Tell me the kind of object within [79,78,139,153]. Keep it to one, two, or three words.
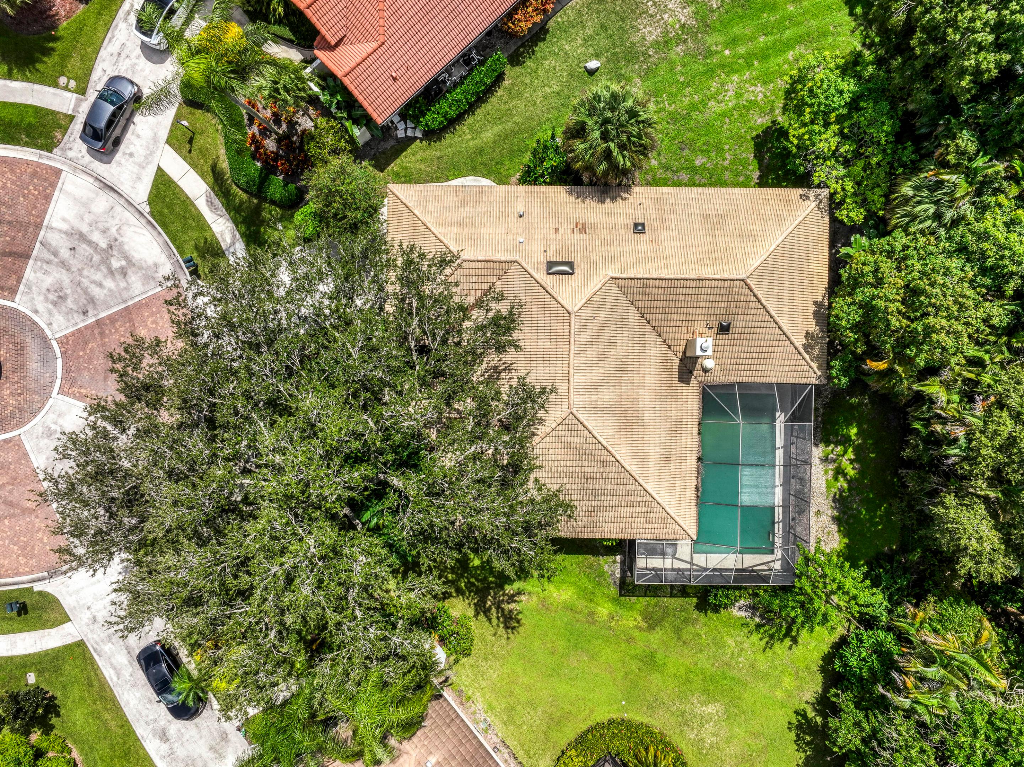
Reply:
car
